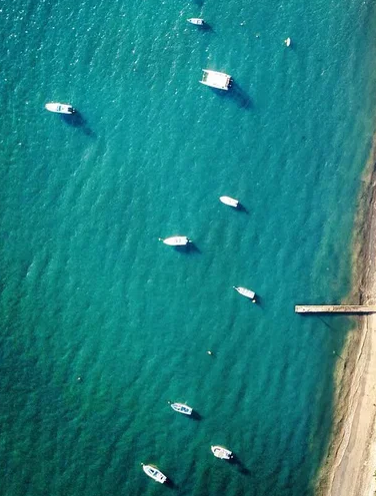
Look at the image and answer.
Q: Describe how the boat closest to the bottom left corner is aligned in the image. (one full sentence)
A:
From this overhead view, the boat closest to the bottom left corner appears to run diagonally.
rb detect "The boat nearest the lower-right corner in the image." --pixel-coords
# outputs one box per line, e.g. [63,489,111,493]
[211,448,234,462]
